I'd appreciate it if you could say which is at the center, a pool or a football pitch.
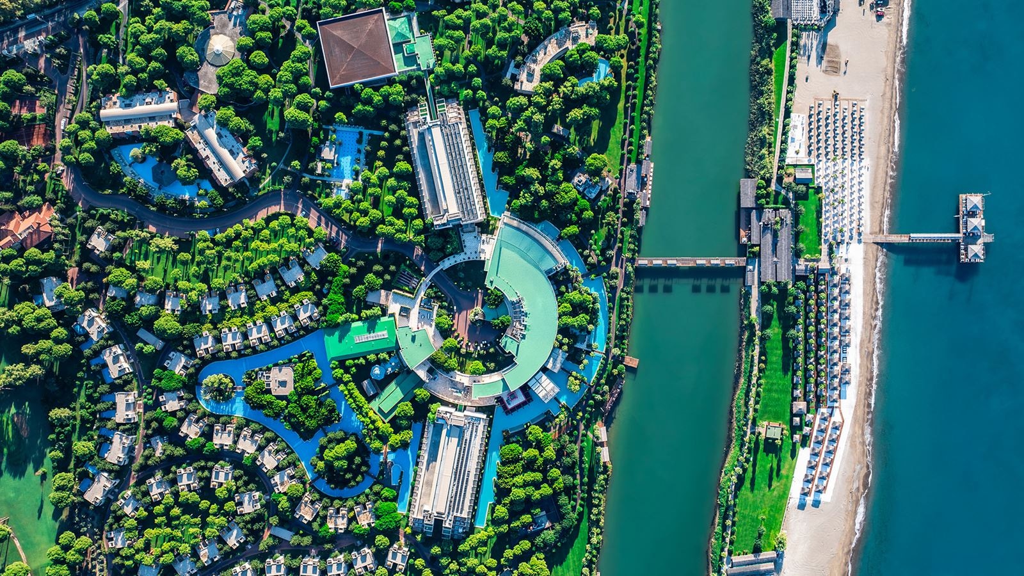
pool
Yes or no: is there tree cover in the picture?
Yes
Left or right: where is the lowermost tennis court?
left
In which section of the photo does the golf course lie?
bottom left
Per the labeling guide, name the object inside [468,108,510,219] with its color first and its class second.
blue swimming pool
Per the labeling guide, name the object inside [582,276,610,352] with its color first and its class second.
blue swimming pool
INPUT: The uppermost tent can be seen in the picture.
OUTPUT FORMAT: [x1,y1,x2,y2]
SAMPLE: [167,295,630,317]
[206,34,237,66]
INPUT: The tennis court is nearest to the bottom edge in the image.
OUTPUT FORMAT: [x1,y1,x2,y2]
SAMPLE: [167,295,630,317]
[4,122,51,147]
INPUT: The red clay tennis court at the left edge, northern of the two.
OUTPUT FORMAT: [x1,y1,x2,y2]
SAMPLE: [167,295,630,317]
[8,97,46,114]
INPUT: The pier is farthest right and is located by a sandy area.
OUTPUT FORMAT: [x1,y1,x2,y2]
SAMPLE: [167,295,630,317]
[861,192,995,262]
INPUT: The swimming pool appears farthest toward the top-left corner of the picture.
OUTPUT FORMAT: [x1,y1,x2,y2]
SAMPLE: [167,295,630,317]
[116,142,213,197]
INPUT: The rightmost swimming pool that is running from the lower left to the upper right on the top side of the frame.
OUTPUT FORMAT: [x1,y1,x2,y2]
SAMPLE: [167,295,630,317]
[577,57,610,86]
